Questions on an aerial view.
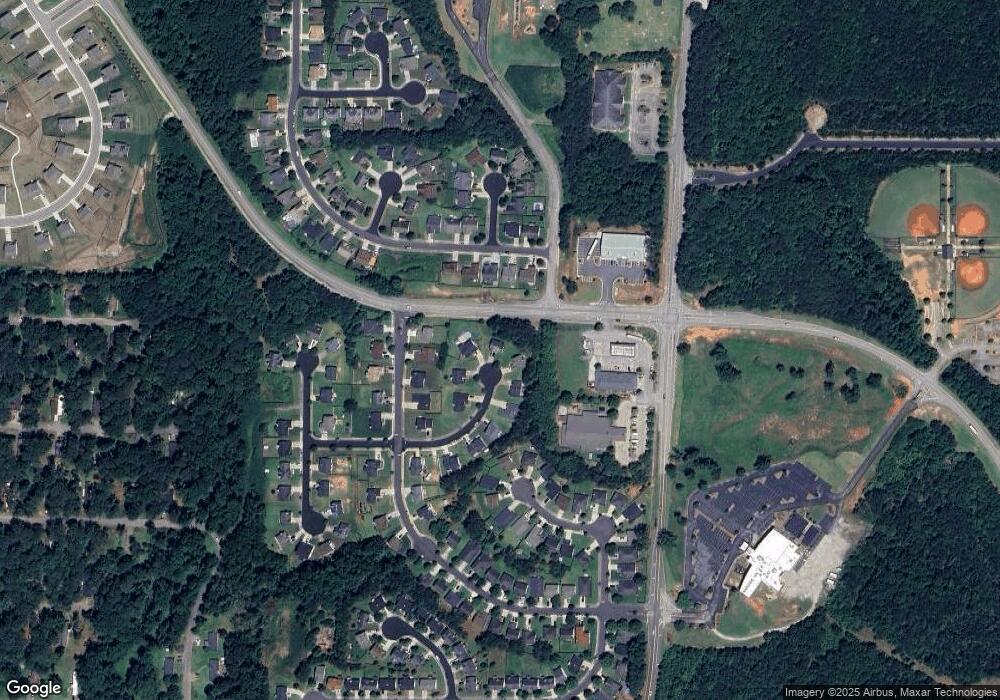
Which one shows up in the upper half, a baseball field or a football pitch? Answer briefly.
baseball field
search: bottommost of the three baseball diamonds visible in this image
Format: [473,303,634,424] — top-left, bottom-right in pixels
[956,259,1000,318]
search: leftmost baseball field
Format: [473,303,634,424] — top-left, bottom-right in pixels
[869,165,939,238]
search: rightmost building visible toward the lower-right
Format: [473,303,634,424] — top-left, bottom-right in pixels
[739,529,803,597]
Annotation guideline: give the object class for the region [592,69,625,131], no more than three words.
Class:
building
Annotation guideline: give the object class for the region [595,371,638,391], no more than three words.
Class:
building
